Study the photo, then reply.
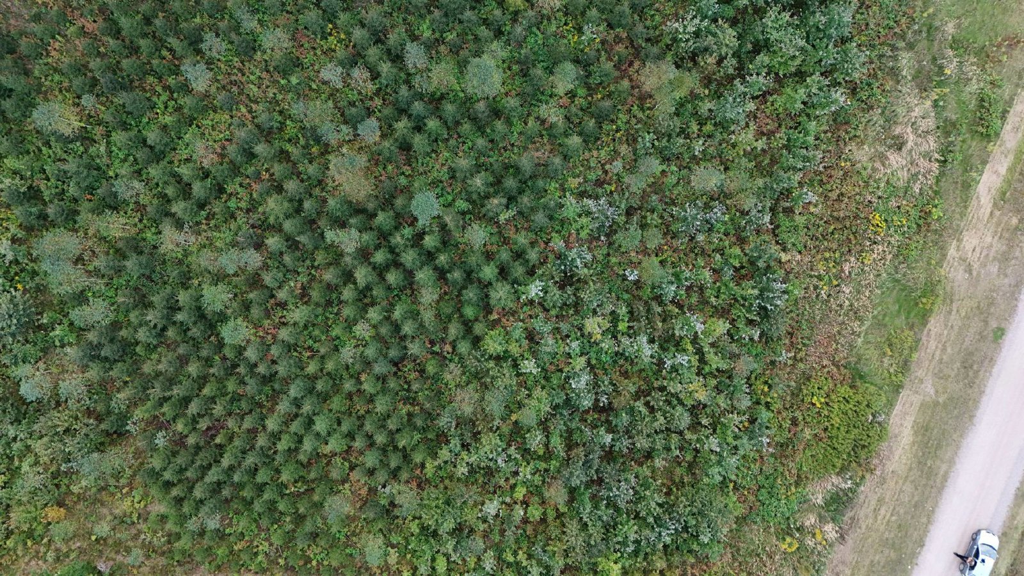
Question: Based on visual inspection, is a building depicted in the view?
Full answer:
No, the photo shows no building.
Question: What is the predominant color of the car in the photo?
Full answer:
From above, the car appears white.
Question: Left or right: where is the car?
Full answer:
The car sits on the right side.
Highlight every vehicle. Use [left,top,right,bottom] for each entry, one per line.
[960,528,1002,576]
